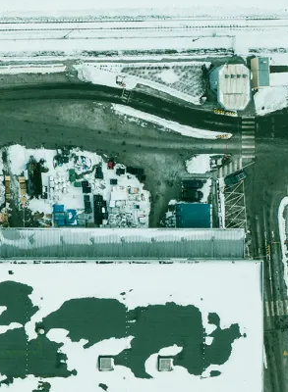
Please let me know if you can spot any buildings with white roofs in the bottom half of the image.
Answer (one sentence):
No, there is no building with a white roof in the bottom half of the image.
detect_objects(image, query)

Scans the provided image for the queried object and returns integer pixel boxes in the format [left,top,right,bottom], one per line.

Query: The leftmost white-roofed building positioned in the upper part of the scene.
[203,63,250,112]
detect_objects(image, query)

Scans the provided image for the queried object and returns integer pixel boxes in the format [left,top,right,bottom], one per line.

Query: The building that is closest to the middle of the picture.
[171,204,211,227]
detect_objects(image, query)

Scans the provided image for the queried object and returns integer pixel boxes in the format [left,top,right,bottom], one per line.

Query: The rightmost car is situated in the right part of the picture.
[221,170,247,185]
